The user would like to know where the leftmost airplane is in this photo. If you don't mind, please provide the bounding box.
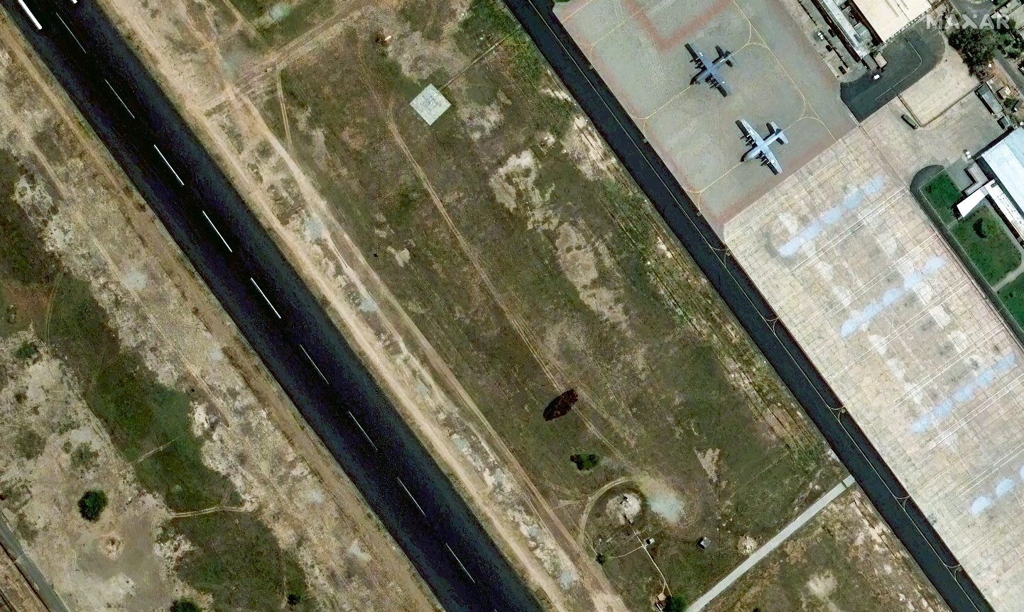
[690,42,740,96]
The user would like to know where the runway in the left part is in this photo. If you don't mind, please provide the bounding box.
[0,0,547,612]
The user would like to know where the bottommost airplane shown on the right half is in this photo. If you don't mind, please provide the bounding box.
[741,119,790,173]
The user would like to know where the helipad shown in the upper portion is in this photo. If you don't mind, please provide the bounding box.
[410,83,452,126]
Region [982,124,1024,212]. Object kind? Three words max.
building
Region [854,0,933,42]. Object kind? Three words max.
hangar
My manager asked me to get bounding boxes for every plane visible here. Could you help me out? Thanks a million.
[690,42,740,96]
[741,119,790,173]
